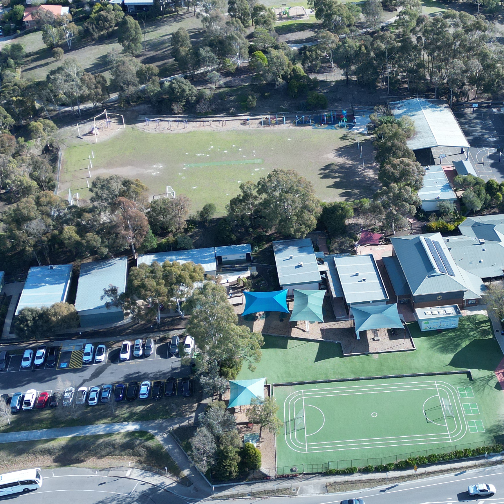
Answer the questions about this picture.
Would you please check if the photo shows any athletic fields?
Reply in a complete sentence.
Yes, the picture does show an athletic field.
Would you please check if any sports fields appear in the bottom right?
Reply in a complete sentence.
Yes, there is a sports field in the bottom right.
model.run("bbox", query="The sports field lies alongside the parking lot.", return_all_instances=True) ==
[274,374,495,473]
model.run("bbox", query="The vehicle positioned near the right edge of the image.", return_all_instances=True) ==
[466,482,497,497]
